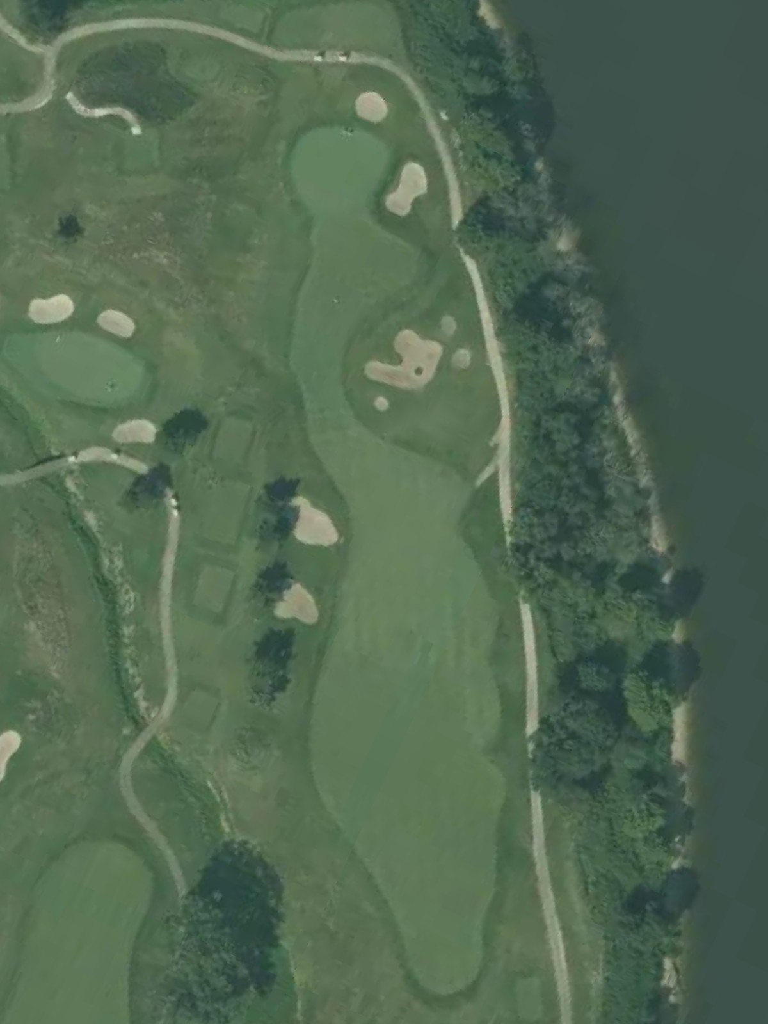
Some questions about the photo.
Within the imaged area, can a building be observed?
No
